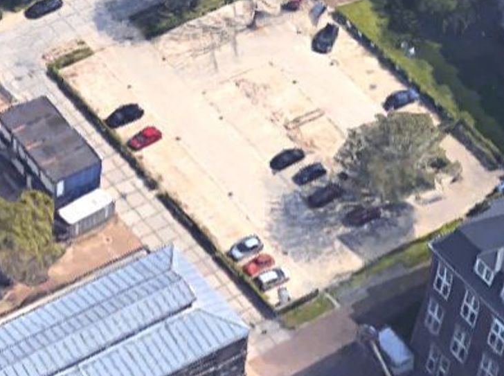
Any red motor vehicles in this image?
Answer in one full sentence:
Yes, this view includes a red motor vehicle.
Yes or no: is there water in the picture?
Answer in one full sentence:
No, the scene doesn't show any water.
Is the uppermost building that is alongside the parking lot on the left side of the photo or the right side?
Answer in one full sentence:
You can find the uppermost building that is alongside the parking lot on the left side of the picture.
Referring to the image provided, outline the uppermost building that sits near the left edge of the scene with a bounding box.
[0,96,104,221]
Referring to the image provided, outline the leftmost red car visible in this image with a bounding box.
[125,121,166,152]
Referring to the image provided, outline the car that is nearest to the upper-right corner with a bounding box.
[378,84,426,114]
